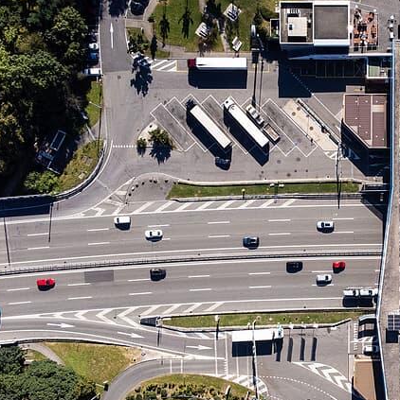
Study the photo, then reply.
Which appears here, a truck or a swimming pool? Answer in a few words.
truck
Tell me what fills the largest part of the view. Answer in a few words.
paved ground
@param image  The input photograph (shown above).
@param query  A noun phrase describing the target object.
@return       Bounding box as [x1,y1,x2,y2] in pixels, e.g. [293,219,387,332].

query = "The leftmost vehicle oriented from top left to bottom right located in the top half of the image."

[186,99,234,151]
